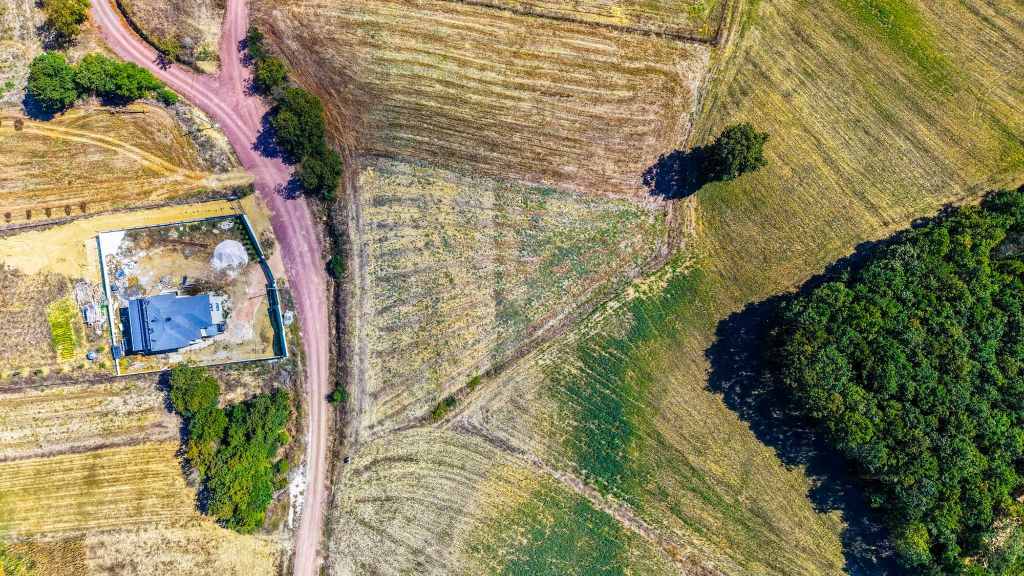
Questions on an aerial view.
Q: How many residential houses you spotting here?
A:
1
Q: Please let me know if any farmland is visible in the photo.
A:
Yes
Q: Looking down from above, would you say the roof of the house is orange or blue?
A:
blue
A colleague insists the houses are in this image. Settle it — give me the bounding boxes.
[126,293,227,351]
